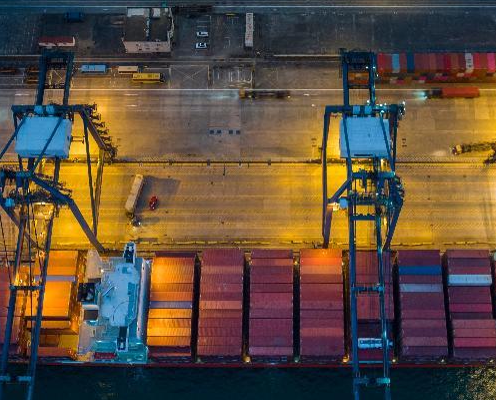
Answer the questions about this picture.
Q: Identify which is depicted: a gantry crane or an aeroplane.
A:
gantry crane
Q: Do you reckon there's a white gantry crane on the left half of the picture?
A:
No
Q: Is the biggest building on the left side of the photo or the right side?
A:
left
